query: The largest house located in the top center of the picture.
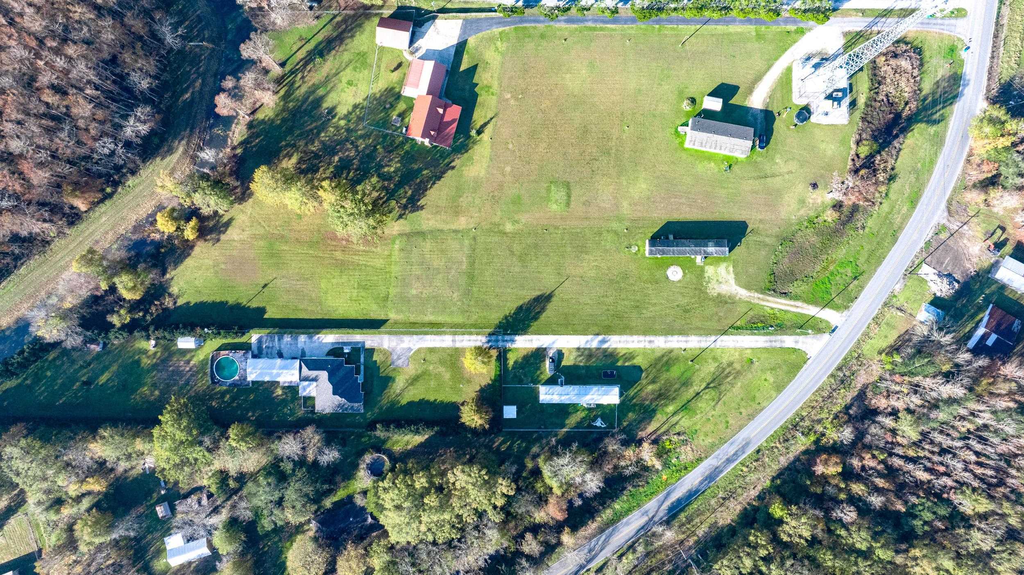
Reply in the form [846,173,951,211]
[402,58,462,148]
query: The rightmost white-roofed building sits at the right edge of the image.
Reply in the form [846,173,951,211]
[988,256,1024,297]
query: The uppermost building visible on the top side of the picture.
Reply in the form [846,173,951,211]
[376,17,413,52]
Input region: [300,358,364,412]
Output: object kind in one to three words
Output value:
house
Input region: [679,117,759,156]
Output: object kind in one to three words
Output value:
house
